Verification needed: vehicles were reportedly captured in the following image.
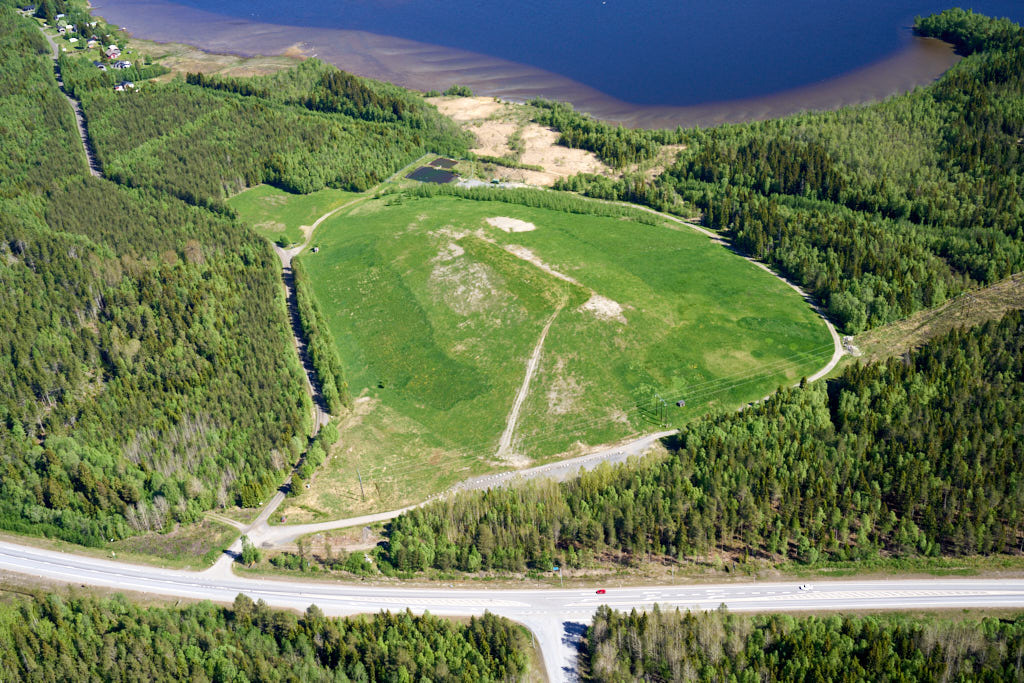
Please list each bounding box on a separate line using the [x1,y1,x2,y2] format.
[799,583,813,590]
[596,588,606,594]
